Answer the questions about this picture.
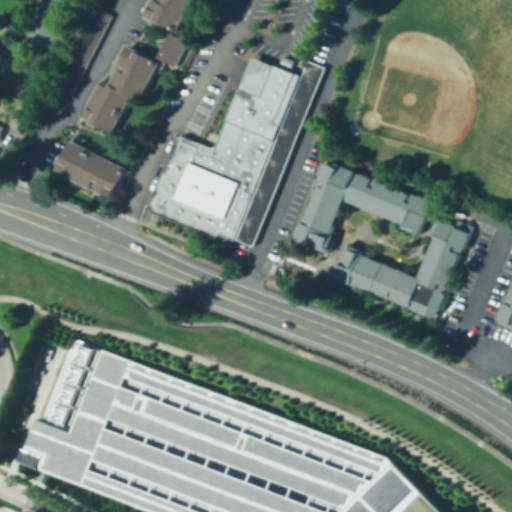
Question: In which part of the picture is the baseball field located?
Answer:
top right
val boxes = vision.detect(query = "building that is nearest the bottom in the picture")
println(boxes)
[15,341,440,512]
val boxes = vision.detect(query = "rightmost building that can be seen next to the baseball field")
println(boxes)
[406,221,471,318]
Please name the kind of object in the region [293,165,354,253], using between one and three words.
building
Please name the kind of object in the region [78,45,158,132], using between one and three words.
house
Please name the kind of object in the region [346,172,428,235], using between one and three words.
building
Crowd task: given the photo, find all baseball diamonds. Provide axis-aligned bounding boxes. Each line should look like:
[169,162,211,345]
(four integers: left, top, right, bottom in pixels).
[351,0,512,212]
